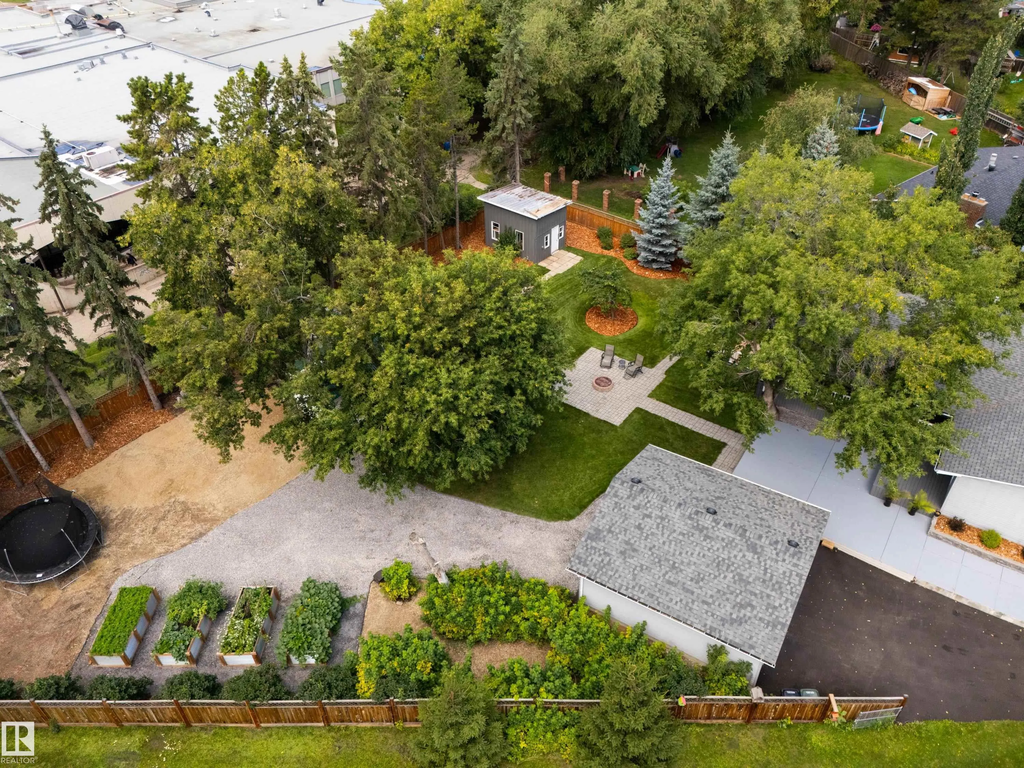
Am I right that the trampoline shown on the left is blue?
No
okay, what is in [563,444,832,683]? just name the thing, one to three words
building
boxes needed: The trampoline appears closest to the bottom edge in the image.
[0,476,107,593]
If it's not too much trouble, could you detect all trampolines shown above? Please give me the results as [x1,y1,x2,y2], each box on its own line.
[840,99,889,134]
[0,476,107,593]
